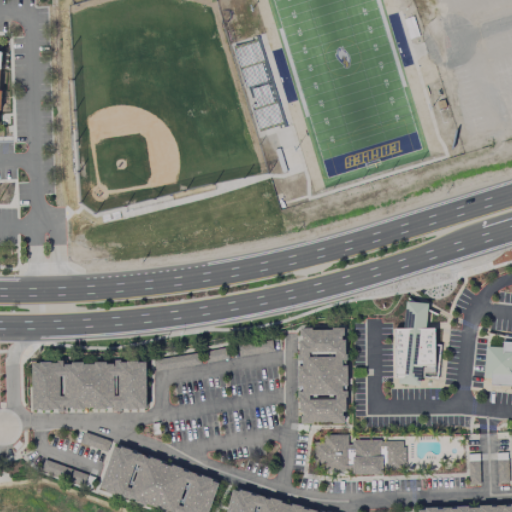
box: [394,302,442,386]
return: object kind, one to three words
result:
building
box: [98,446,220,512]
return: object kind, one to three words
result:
building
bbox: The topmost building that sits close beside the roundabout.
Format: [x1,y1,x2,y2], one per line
[32,360,148,413]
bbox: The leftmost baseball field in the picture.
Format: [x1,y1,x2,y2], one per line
[72,0,269,214]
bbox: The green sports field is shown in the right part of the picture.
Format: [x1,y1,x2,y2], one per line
[274,0,430,188]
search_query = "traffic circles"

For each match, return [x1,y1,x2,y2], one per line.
[0,407,23,448]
